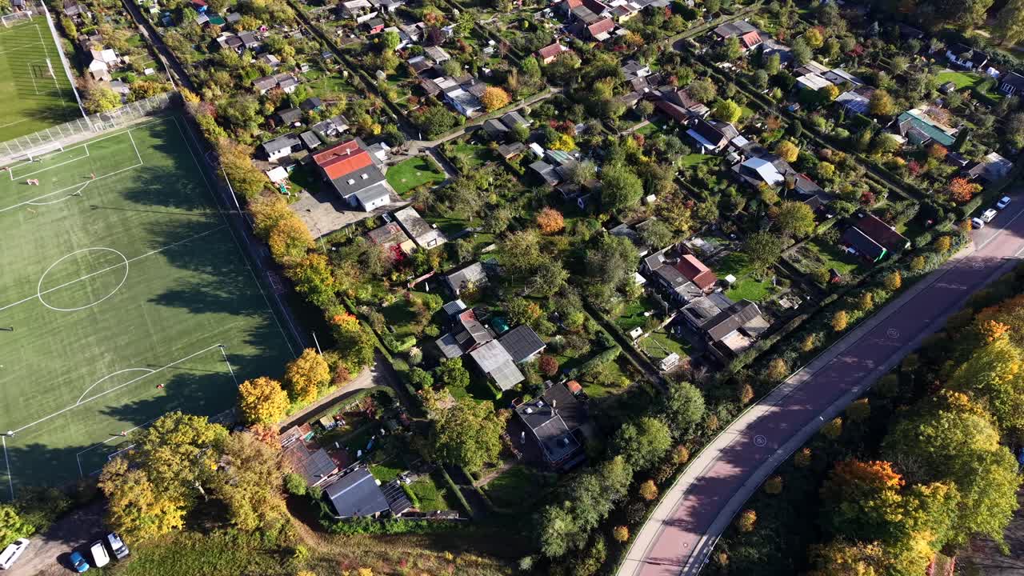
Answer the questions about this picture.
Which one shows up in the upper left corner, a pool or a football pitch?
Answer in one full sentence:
What appears in the upper left corner is a football pitch.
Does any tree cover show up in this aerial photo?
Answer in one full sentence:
Yes, there's tree cover in this view.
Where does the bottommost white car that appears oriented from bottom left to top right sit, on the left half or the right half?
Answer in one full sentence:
The bottommost white car that appears oriented from bottom left to top right sits on the left side.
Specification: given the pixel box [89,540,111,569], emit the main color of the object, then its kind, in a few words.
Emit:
white car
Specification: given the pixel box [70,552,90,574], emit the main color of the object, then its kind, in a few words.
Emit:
blue car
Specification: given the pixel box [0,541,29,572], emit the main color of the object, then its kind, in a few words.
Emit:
white car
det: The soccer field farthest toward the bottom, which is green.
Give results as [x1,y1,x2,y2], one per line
[0,110,321,515]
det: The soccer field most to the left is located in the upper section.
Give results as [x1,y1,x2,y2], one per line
[0,0,85,155]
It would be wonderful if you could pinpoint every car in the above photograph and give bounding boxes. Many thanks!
[995,196,1012,209]
[973,216,987,231]
[0,541,29,572]
[70,552,90,574]
[980,210,997,224]
[89,540,111,569]
[107,533,130,560]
